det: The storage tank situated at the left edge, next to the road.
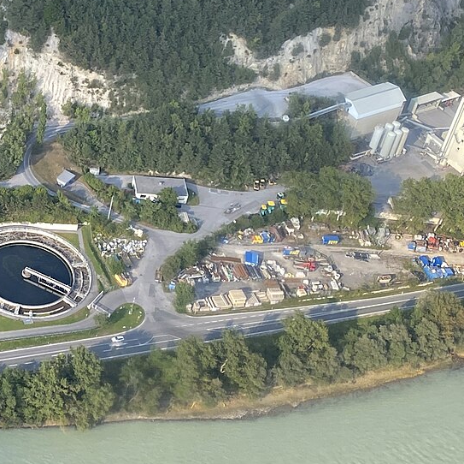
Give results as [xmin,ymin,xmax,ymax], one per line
[0,226,92,322]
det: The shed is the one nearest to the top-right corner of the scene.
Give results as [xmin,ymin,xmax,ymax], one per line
[404,90,446,115]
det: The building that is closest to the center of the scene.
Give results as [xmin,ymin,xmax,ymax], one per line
[134,177,189,205]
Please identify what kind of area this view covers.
industrial area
